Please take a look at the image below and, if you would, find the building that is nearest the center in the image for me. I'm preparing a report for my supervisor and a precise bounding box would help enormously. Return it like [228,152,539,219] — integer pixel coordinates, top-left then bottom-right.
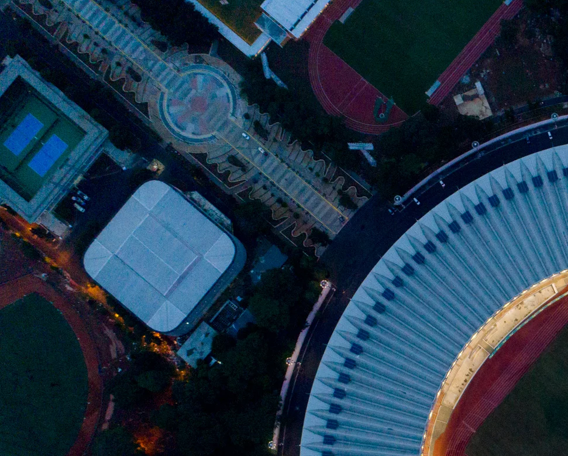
[249,243,290,286]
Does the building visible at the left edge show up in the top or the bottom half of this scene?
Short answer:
top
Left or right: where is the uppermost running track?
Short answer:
right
